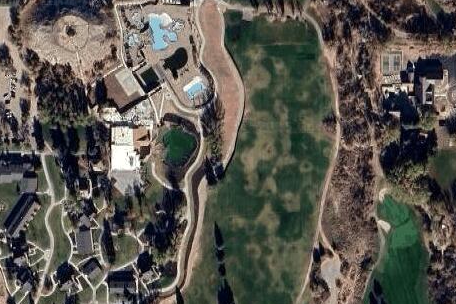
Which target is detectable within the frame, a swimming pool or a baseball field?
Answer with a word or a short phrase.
swimming pool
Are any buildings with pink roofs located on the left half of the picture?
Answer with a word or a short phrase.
No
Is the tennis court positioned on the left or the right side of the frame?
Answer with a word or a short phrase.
right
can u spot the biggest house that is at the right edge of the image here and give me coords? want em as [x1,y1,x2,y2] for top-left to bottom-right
[399,58,442,108]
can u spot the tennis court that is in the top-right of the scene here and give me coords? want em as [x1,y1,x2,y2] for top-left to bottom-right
[381,51,402,76]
